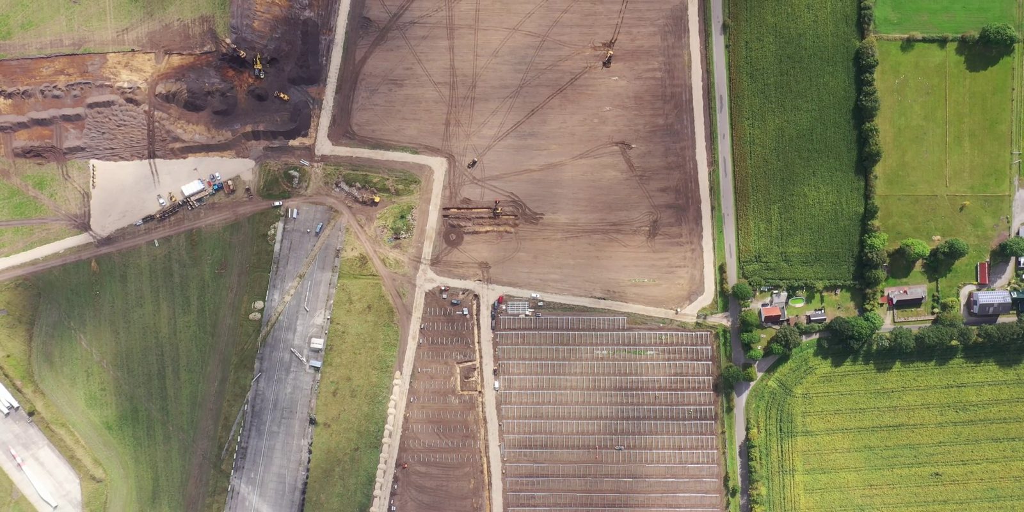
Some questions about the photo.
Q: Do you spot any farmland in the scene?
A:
Yes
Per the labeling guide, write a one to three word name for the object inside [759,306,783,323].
house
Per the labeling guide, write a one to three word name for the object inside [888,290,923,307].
house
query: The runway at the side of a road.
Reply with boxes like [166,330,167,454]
[223,204,349,512]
